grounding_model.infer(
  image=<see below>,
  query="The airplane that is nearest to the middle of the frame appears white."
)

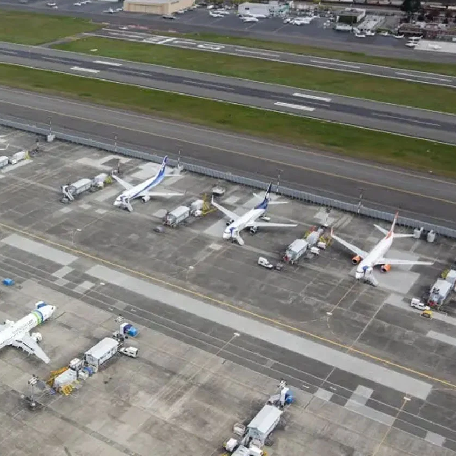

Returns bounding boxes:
[210,182,292,239]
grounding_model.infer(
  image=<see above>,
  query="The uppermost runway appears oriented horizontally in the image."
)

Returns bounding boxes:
[85,28,456,85]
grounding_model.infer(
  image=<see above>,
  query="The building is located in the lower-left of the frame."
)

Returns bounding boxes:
[84,333,121,367]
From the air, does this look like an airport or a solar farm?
airport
